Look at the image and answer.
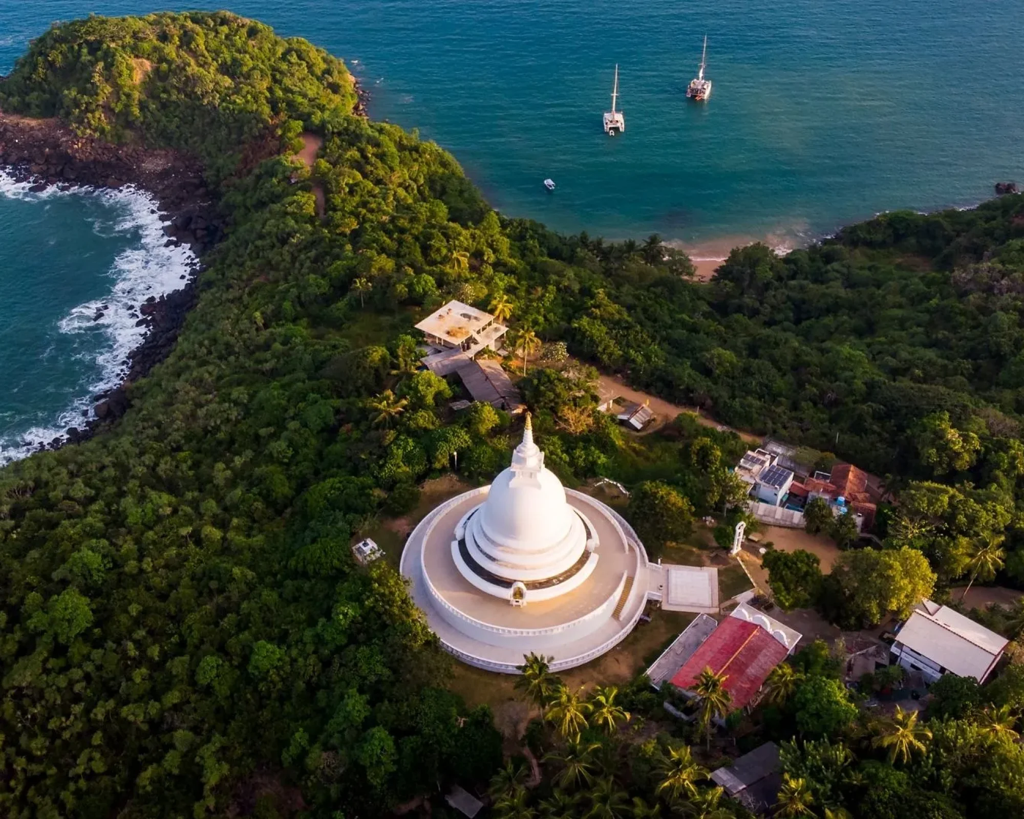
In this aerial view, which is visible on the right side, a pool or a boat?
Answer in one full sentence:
The feature located on the right side is a boat.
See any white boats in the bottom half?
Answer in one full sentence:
No, in the bottom half there is no white boat.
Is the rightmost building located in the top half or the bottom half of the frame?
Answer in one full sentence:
Seen from above, the rightmost building lies in the bottom half of the view.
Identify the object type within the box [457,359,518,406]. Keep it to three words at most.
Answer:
shed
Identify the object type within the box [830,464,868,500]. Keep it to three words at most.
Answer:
house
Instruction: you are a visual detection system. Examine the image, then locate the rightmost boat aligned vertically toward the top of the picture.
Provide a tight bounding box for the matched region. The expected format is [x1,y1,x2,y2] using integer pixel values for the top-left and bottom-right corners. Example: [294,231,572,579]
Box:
[690,33,709,96]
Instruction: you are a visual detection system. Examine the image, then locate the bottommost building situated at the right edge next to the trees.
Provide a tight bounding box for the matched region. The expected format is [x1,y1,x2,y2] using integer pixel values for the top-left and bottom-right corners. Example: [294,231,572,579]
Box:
[884,605,1010,699]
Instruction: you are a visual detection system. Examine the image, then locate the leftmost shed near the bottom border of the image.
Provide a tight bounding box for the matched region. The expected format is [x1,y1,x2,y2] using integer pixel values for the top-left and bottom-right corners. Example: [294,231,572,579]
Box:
[445,785,483,819]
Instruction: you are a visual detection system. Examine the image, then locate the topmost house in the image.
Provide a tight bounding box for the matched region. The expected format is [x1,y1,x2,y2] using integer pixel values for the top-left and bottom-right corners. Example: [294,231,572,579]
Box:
[415,300,508,359]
